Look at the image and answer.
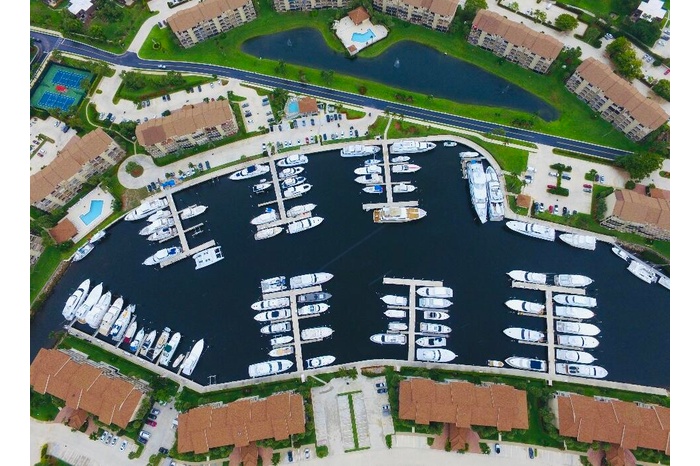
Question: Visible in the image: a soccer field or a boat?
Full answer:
The image shows a boat.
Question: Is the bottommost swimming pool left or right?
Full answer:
The bottommost swimming pool appears in the left half of the scene.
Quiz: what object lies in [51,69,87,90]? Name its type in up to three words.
tennis court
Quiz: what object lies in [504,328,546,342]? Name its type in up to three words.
boat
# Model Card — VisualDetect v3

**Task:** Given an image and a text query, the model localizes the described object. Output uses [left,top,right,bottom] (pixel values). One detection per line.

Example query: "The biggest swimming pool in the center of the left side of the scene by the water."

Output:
[57,182,114,241]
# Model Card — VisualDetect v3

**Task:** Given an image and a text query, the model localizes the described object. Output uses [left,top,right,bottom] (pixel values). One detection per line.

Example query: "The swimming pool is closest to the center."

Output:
[284,97,304,119]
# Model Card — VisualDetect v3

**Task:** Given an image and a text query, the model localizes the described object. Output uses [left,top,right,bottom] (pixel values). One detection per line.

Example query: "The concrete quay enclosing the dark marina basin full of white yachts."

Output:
[0,135,700,396]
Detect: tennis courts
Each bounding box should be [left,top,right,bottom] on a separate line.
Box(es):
[51,69,87,90]
[31,63,92,107]
[37,91,76,111]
